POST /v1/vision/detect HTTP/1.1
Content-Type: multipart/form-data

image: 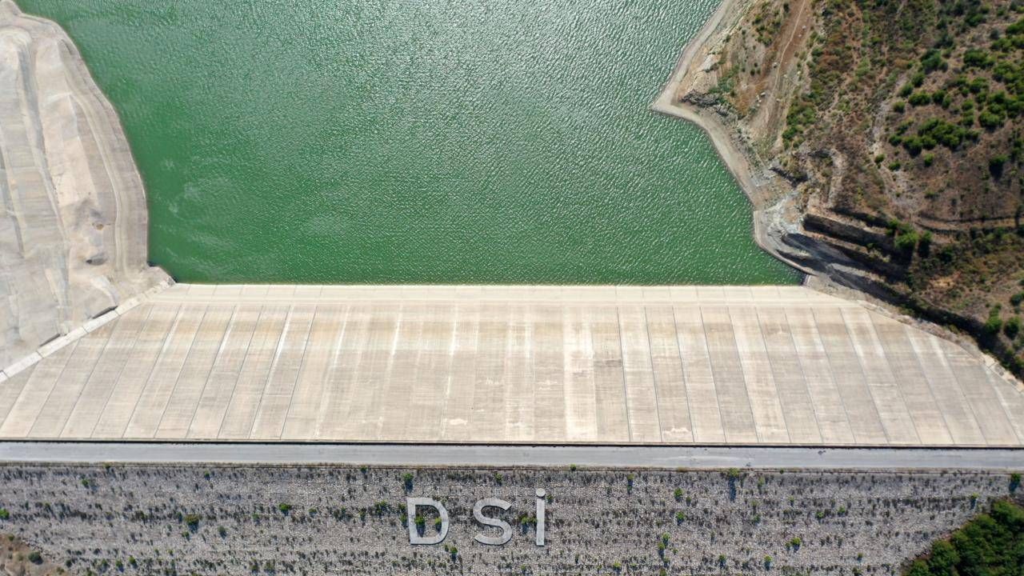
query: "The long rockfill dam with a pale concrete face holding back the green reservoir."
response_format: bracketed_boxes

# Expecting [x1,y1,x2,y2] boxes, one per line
[0,269,1024,576]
